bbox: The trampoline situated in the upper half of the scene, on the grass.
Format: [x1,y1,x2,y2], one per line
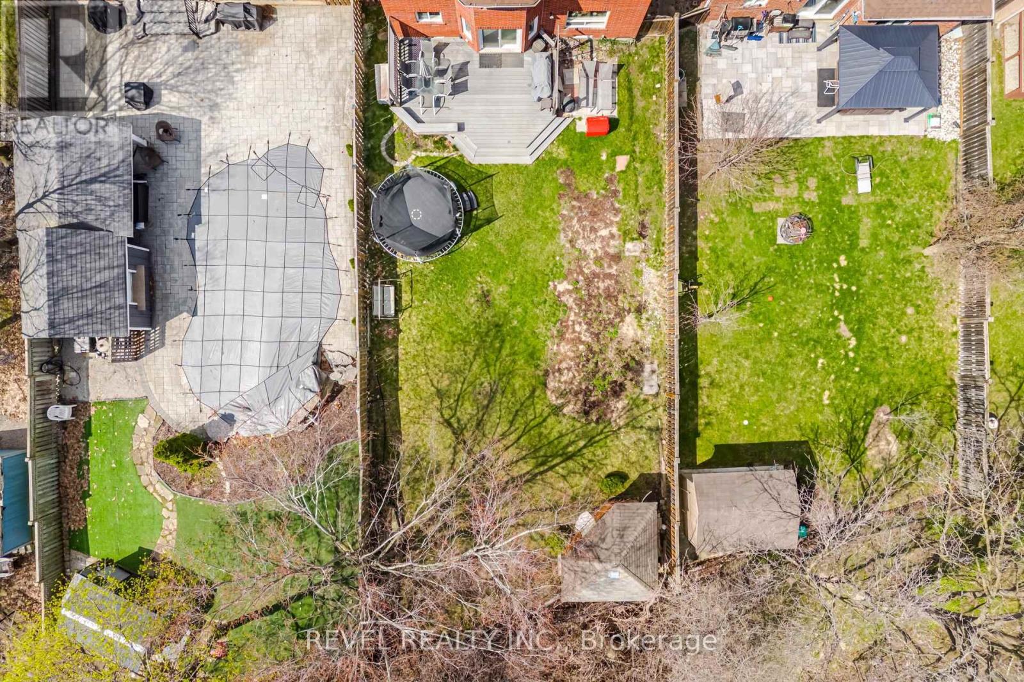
[368,158,465,264]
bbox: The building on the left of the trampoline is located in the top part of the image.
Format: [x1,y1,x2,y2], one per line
[13,114,152,338]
